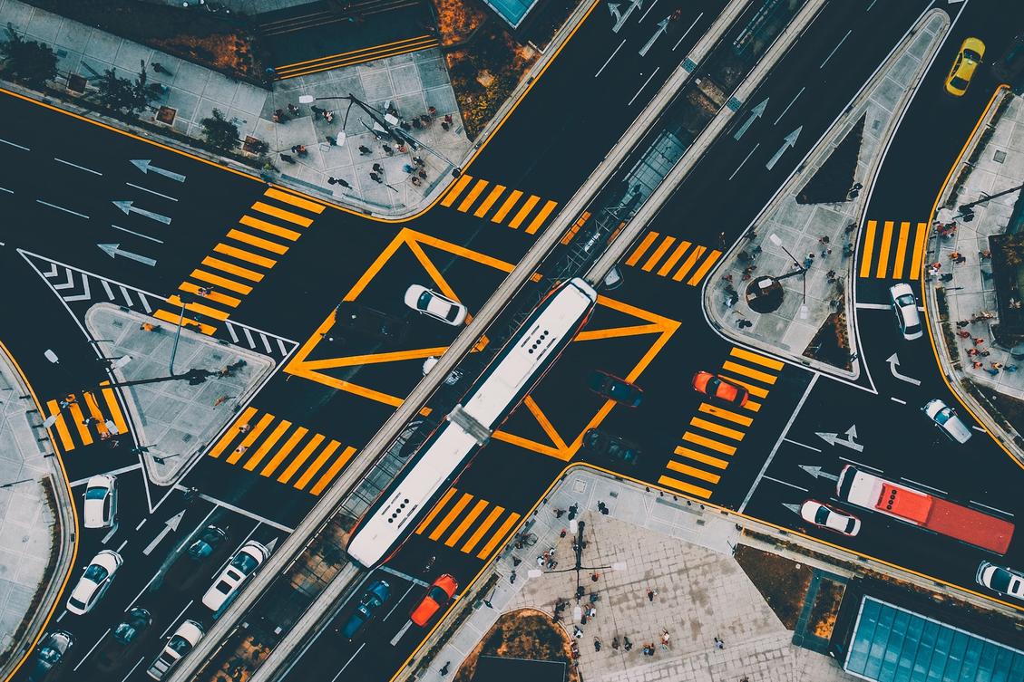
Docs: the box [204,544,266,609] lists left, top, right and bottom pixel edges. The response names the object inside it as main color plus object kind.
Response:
white van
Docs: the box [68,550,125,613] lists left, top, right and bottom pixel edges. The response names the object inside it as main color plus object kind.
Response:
white car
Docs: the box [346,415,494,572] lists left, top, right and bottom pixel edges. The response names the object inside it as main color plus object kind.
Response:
white rail car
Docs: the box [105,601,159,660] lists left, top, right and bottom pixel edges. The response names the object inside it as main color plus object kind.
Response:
black car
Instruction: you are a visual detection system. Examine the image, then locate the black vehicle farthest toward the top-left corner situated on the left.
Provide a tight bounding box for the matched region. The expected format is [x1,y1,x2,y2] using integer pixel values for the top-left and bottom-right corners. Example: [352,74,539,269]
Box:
[338,300,406,342]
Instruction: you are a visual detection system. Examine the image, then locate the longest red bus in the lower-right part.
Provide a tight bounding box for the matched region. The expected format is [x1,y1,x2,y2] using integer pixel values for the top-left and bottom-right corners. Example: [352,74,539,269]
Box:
[839,471,1017,559]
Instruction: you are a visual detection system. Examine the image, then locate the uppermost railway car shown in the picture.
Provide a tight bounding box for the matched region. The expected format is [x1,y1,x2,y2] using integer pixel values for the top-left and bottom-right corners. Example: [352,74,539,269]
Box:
[458,280,600,437]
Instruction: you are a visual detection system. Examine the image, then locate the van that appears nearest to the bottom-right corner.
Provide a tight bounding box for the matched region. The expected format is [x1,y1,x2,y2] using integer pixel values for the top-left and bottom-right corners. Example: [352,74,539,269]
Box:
[974,560,1024,600]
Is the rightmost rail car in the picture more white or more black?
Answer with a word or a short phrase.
white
